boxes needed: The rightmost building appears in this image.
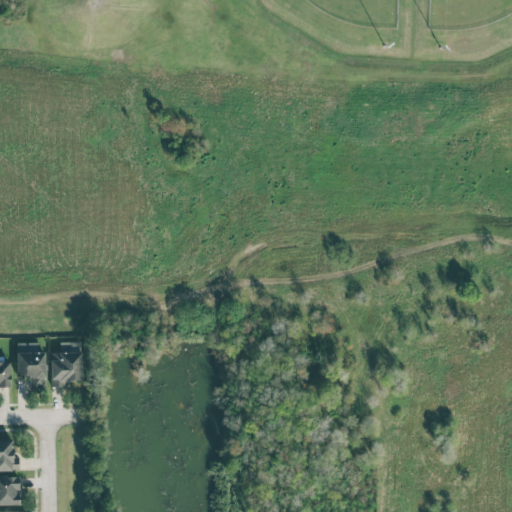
[51,343,82,384]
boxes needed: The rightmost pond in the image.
[104,340,220,512]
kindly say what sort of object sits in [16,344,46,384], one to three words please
house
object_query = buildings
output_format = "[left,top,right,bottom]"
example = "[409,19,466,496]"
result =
[0,362,11,388]
[0,476,21,507]
[16,344,46,384]
[51,343,82,384]
[0,442,18,472]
